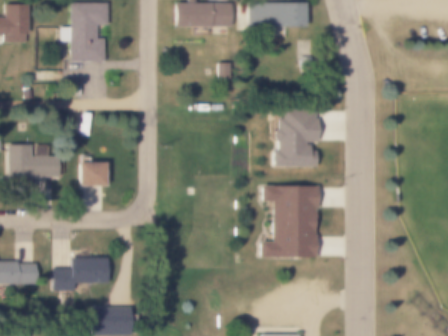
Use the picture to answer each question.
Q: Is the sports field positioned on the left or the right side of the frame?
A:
right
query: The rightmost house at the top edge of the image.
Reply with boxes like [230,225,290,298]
[247,1,310,28]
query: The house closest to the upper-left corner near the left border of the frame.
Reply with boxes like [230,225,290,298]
[0,3,30,42]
